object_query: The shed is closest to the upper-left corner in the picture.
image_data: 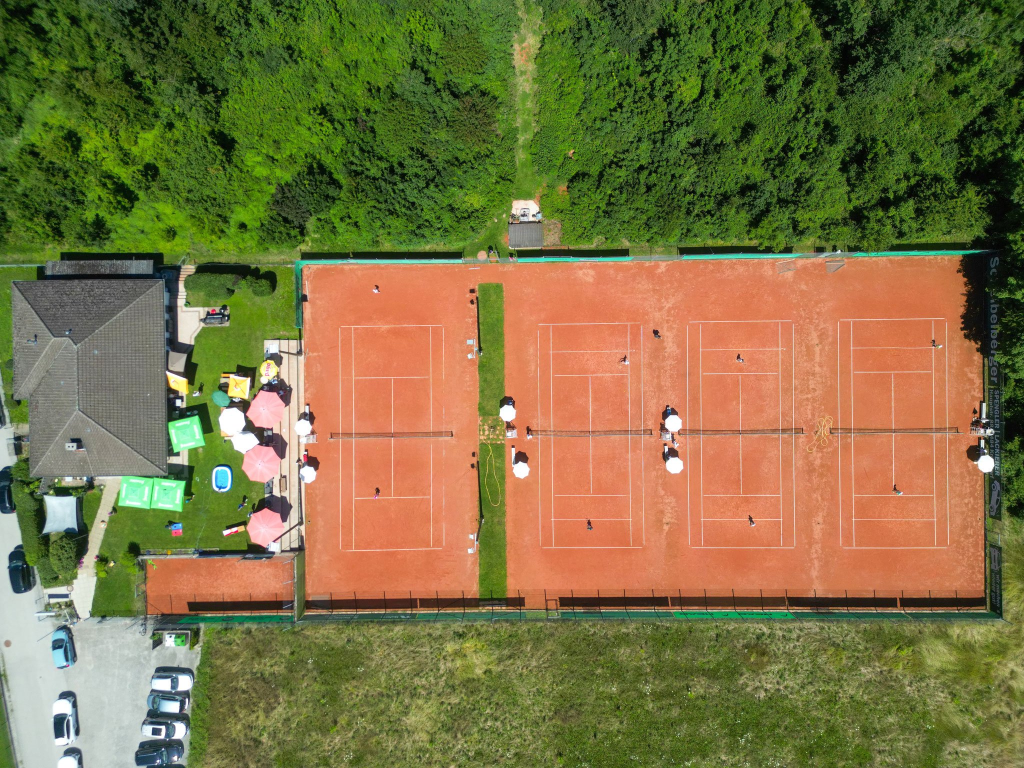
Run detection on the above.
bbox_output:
[45,260,156,276]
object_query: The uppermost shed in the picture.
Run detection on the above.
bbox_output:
[509,223,543,249]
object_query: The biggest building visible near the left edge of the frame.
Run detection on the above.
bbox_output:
[11,279,168,478]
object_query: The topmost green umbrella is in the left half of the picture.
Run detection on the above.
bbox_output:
[211,389,232,408]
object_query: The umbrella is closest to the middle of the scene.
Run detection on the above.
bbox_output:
[499,405,516,421]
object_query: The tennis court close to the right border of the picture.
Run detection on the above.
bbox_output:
[817,258,986,609]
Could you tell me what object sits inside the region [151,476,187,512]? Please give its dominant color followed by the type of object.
green umbrella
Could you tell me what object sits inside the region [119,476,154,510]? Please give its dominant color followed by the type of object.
green umbrella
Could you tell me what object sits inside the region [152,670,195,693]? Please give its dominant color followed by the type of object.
white car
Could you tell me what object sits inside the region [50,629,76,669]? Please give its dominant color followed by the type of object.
blue car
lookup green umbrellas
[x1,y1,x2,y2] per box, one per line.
[168,414,207,453]
[151,476,187,512]
[119,476,154,510]
[211,389,232,408]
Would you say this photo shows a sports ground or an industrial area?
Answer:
sports ground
